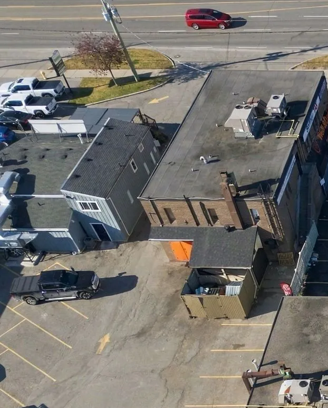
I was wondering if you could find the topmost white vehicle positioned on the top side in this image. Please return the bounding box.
[2,72,62,96]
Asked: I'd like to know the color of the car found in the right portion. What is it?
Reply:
red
